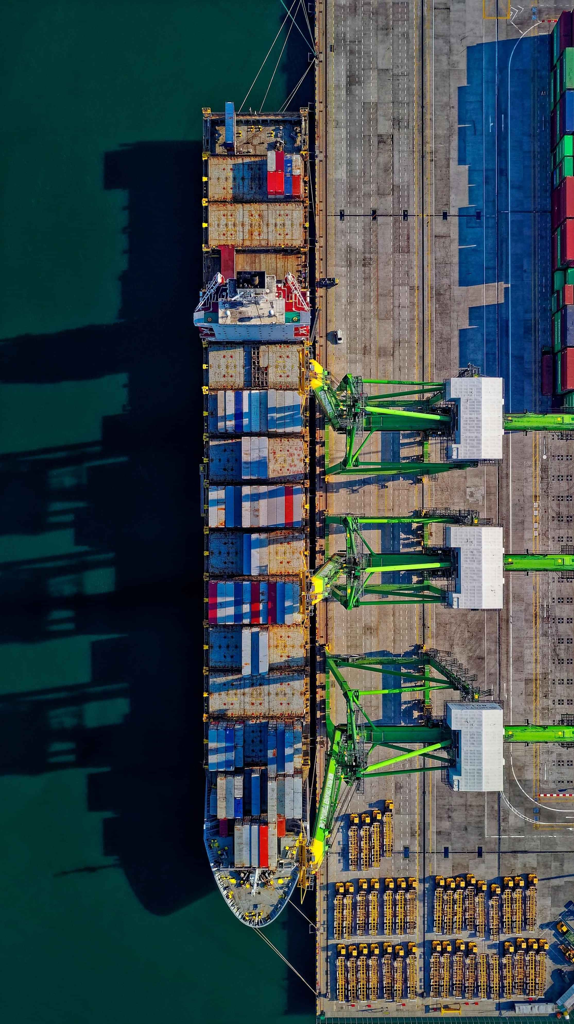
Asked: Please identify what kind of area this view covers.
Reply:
port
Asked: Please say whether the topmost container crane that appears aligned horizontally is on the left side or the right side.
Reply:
right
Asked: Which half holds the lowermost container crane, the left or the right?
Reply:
right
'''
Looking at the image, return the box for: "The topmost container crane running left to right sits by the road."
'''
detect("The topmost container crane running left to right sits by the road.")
[296,343,574,484]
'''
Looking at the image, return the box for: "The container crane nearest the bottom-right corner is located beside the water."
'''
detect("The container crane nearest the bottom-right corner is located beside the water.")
[297,643,574,898]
